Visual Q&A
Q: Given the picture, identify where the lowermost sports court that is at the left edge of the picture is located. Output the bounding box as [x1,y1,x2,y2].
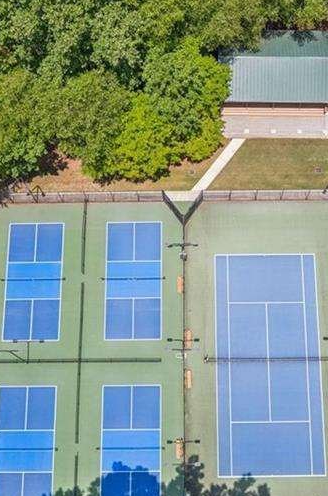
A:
[0,386,56,496]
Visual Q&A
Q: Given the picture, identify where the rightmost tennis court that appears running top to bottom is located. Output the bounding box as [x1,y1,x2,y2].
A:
[216,254,326,477]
